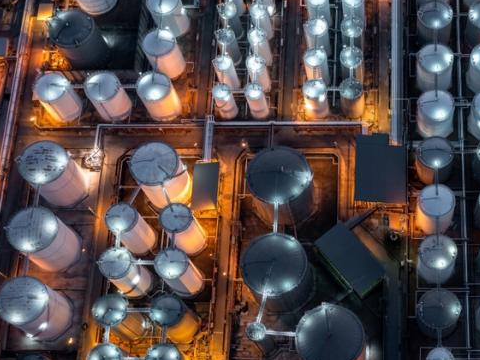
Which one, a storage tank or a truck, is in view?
storage tank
